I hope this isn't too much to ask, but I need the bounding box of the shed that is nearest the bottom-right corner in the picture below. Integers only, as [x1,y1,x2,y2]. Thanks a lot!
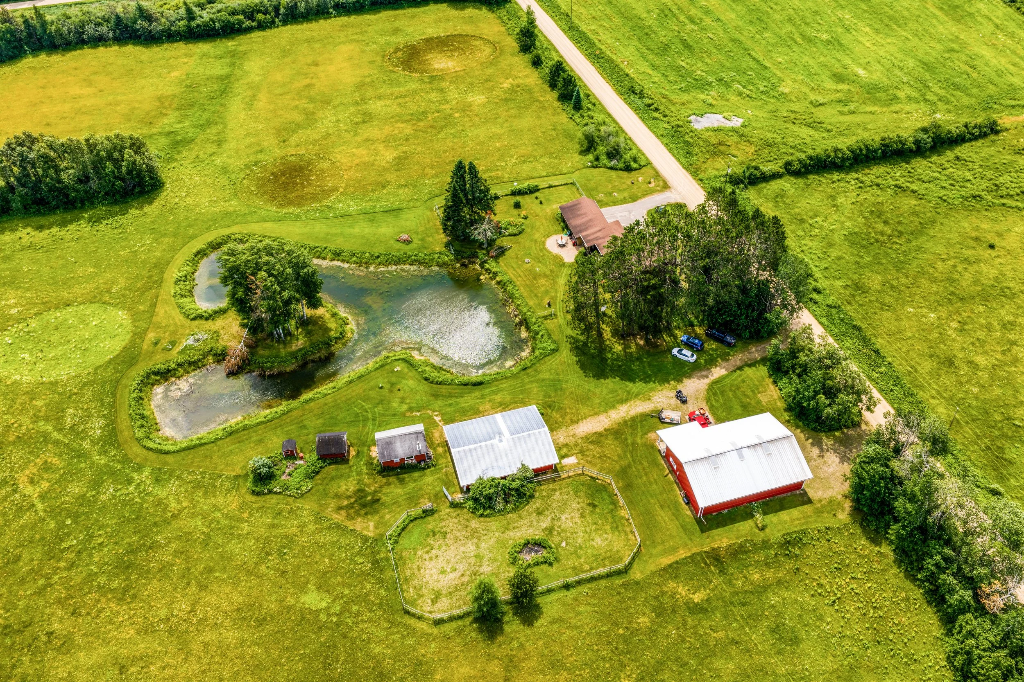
[652,413,812,525]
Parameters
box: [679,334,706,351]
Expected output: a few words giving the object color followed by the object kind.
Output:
blue car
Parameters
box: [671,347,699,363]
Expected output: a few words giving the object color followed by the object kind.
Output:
white car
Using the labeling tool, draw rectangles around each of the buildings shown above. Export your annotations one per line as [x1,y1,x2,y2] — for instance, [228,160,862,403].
[374,424,429,468]
[652,413,812,525]
[558,196,627,254]
[439,405,559,493]
[316,432,349,461]
[282,438,297,458]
